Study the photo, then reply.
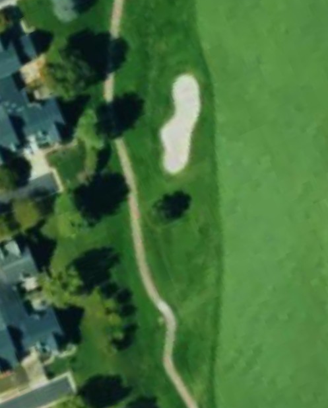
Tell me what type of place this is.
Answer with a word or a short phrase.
golf course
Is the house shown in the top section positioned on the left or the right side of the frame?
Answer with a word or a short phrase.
left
